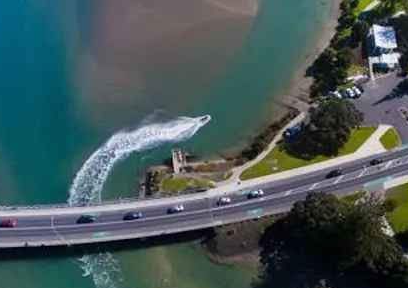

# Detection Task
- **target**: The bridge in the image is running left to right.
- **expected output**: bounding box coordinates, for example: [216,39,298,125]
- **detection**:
[0,185,239,248]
